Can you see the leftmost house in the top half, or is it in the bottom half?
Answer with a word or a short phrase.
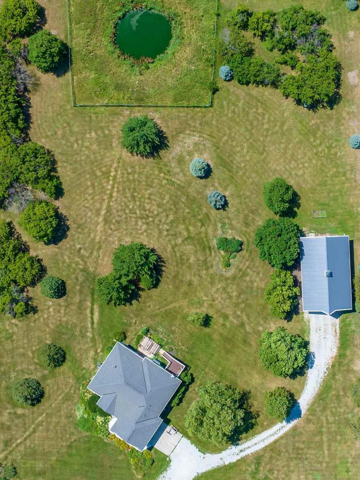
bottom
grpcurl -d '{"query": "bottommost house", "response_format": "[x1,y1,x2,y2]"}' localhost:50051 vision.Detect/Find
[86,342,182,453]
